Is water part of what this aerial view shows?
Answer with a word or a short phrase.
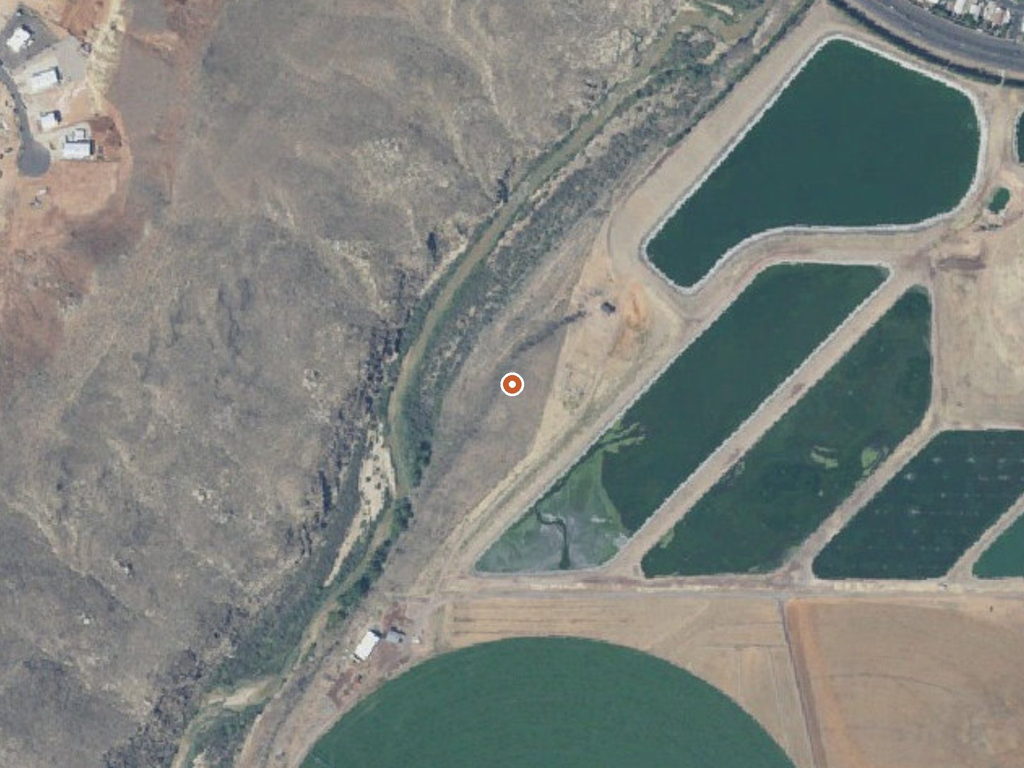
Yes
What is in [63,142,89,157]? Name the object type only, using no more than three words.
house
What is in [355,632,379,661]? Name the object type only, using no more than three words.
barn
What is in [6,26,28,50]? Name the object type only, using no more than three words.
house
